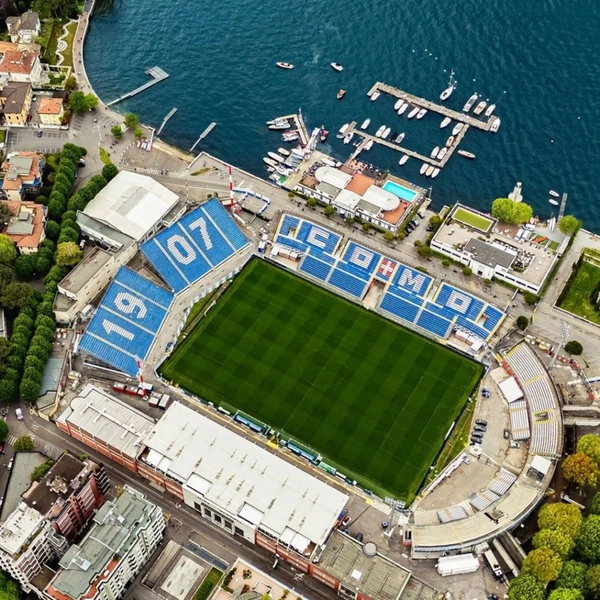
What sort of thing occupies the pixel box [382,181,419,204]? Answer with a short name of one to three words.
swimming pool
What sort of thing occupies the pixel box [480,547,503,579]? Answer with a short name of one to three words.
truck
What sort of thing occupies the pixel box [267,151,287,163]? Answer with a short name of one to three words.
boat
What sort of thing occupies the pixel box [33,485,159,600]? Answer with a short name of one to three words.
building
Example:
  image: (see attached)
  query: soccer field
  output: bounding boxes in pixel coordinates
[156,255,487,506]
